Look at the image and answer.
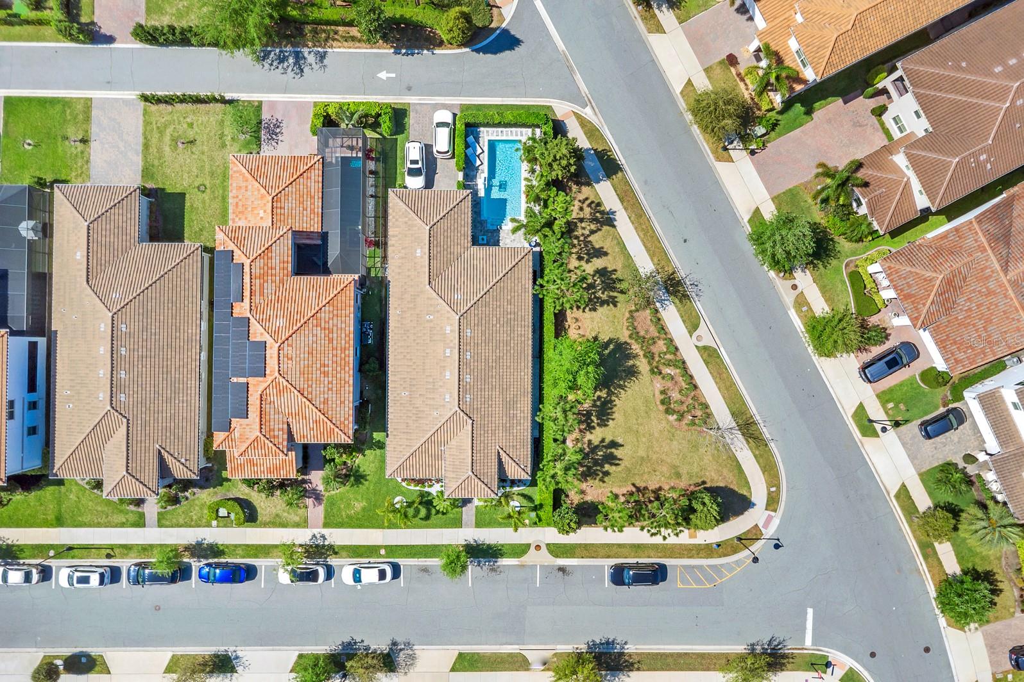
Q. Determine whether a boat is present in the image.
No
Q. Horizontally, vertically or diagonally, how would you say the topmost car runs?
vertically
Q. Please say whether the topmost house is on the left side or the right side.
right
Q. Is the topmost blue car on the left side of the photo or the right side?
right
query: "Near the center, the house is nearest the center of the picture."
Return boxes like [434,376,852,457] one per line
[386,188,534,499]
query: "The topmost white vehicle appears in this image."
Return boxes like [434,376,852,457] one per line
[431,109,456,160]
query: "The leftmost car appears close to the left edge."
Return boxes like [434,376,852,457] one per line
[0,561,40,586]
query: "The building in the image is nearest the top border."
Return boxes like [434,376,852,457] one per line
[740,0,976,100]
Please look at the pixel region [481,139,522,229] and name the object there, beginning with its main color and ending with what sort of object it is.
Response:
blue swimming pool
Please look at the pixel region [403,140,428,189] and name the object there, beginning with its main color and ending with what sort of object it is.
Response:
white car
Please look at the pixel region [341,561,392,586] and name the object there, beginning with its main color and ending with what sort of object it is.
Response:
white car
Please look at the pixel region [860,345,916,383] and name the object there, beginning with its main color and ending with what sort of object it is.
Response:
blue car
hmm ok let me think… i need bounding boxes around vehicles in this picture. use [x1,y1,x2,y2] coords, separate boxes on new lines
[431,109,456,160]
[196,562,244,587]
[916,408,965,440]
[0,561,40,586]
[609,562,659,587]
[860,345,916,383]
[276,561,326,586]
[56,562,107,587]
[341,561,392,586]
[126,563,179,588]
[403,140,428,189]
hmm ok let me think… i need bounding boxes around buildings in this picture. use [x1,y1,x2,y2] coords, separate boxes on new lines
[740,0,976,100]
[212,153,363,478]
[51,183,210,499]
[861,185,1024,377]
[0,329,47,484]
[850,0,1024,233]
[962,355,1024,517]
[386,188,534,499]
